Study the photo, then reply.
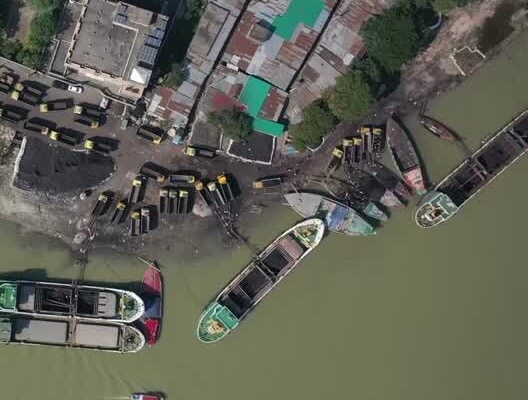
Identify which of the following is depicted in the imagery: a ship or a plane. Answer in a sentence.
Visible in the photo is a ship.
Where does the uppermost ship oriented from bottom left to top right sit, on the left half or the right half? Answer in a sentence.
It is on the right.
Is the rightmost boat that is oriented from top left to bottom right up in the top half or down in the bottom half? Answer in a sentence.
You can find the rightmost boat that is oriented from top left to bottom right in the top half.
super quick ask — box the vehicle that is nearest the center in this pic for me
[252,176,280,188]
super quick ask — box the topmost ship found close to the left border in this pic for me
[0,280,146,323]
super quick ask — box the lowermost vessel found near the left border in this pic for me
[0,314,147,355]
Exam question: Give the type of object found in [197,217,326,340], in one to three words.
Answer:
ship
